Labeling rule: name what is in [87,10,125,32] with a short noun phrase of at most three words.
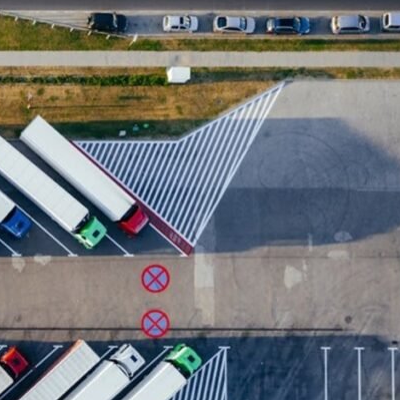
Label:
car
